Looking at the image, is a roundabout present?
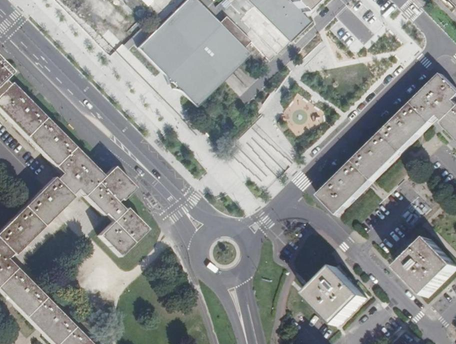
Yes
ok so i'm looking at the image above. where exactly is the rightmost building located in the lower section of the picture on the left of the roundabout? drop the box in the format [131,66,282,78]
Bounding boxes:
[86,167,158,258]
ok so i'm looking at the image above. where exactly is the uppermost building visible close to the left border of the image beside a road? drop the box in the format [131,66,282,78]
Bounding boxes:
[0,50,110,199]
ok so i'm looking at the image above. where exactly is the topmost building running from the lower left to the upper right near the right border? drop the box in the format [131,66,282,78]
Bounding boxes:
[314,73,456,217]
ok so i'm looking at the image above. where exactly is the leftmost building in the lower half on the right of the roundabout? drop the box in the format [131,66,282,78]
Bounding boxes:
[300,265,366,327]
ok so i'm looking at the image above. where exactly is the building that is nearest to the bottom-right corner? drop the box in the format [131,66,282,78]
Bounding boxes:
[390,236,456,299]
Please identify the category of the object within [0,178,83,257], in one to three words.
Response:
building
